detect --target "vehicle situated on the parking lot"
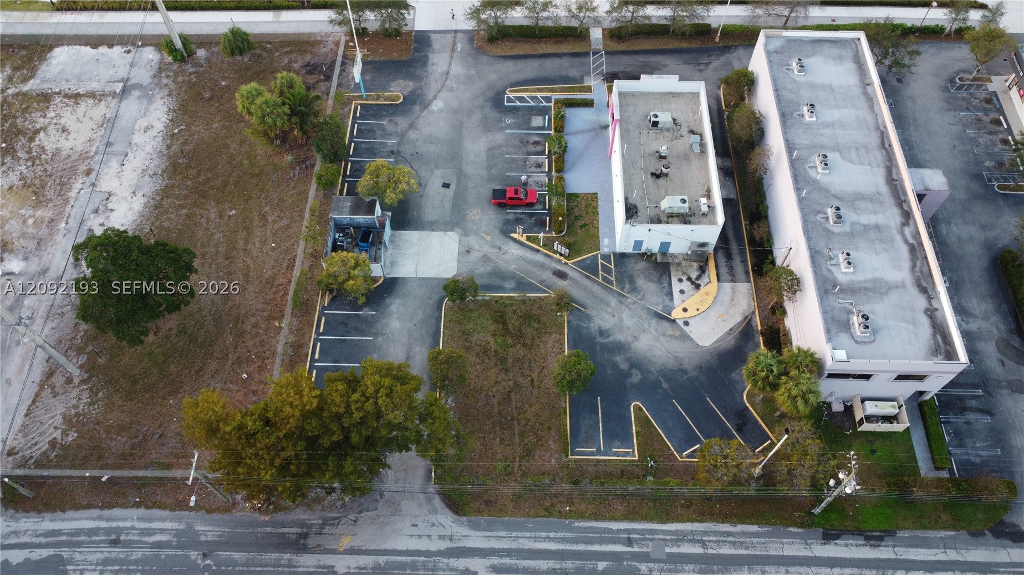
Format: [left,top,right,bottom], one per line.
[492,186,538,208]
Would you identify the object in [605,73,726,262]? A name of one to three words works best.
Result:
building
